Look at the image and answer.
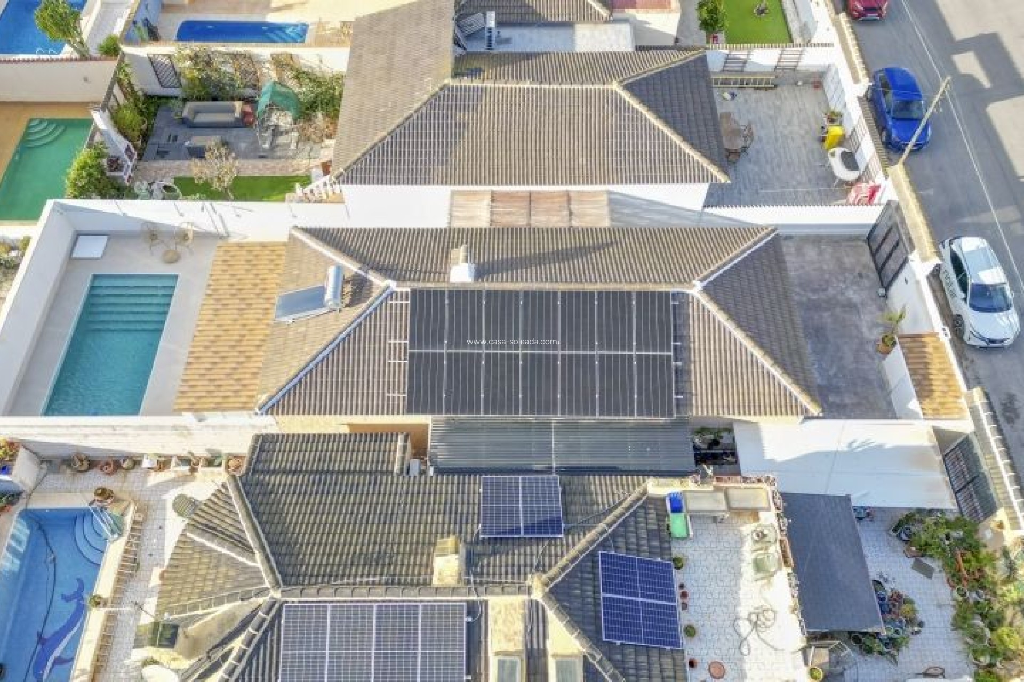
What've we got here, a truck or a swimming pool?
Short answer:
swimming pool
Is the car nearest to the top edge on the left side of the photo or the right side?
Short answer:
right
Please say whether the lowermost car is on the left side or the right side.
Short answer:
right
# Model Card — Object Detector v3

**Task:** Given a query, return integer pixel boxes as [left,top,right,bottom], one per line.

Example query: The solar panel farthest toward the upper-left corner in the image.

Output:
[460,13,485,33]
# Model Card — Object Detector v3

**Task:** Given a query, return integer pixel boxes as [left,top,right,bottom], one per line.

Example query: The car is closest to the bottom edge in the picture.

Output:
[930,242,1017,347]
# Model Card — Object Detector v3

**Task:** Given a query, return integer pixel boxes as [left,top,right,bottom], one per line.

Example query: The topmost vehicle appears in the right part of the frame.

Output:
[842,0,885,25]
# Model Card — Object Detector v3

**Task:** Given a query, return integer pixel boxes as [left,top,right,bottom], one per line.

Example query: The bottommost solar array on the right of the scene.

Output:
[599,550,682,654]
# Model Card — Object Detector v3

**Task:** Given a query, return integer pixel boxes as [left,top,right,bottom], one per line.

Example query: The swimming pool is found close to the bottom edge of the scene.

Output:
[0,502,118,682]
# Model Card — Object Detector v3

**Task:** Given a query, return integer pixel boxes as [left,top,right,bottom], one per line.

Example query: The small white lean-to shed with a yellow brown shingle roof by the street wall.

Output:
[882,332,969,415]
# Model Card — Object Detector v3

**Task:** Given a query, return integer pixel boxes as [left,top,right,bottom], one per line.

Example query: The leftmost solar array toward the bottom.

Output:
[274,602,478,682]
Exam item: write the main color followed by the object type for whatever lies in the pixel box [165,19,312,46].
blue swimming pool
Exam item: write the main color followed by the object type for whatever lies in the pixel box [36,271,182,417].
blue swimming pool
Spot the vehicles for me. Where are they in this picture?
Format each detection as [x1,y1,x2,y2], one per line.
[930,242,1017,347]
[869,79,934,153]
[842,0,885,25]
